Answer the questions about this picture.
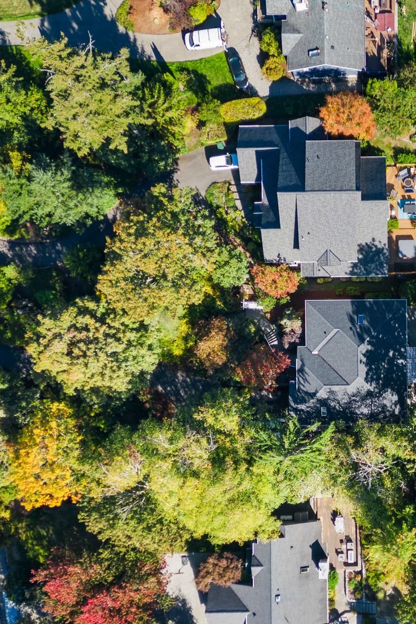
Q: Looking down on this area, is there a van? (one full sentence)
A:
Yes, a van can be made out from above.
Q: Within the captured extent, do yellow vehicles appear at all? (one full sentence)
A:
No, no yellow vehicle can be seen from above.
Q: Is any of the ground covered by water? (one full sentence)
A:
No, there's no water in this view.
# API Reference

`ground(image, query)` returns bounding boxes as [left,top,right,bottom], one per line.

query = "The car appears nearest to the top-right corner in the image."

[227,54,249,90]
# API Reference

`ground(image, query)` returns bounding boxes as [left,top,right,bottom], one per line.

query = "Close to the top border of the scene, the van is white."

[183,22,229,50]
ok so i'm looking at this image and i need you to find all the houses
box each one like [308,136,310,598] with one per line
[289,299,408,425]
[235,115,387,278]
[264,0,366,78]
[203,516,331,624]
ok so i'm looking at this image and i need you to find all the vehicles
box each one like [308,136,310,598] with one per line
[183,22,229,50]
[212,154,237,171]
[227,54,249,90]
